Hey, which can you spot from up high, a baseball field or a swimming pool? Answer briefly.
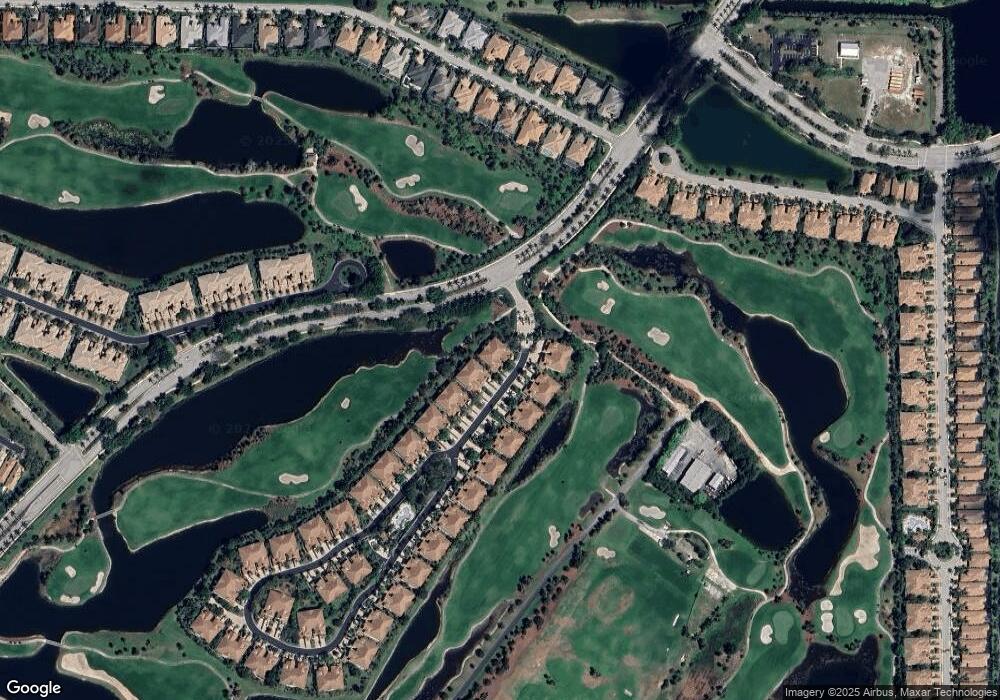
swimming pool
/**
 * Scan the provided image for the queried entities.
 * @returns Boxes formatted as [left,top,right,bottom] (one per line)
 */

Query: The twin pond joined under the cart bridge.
[173,61,386,166]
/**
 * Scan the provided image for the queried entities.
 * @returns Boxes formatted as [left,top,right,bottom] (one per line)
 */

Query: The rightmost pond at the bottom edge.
[776,636,877,700]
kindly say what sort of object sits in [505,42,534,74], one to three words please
house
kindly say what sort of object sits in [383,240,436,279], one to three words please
pond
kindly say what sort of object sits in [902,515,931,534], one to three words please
swimming pool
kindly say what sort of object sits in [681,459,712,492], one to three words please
building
